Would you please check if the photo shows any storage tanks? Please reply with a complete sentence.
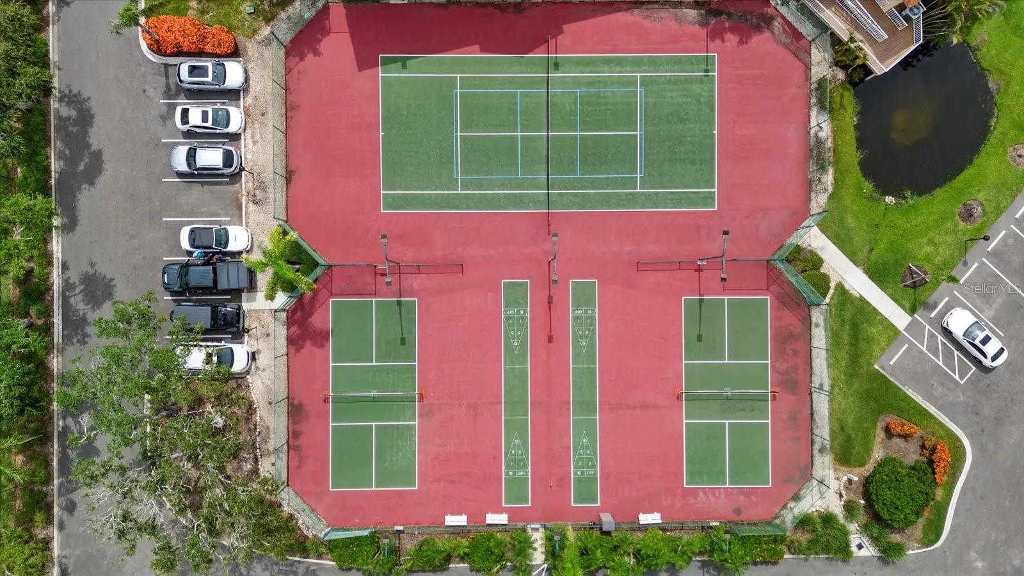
No, there is no storage tank in the image.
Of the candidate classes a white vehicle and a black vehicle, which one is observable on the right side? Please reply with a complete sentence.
It is a white vehicle that can be seen on the right side.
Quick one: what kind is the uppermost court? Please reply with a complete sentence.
Specifically, the uppermost court is a tennis court.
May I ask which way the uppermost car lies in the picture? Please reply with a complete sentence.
The uppermost car has been laid out from left to right relative to the frame.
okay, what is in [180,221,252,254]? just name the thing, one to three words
car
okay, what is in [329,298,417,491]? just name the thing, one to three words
sports court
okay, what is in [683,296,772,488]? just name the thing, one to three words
sports court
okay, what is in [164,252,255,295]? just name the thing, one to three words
truck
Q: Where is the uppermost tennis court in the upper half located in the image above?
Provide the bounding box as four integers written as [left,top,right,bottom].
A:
[379,53,717,212]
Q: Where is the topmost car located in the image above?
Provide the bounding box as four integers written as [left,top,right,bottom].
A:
[176,57,248,91]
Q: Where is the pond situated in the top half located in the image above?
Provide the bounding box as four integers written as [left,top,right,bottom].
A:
[854,28,996,197]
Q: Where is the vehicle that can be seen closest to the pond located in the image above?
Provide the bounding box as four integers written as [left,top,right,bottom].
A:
[941,309,1008,368]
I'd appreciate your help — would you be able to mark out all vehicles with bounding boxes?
[164,252,255,295]
[180,221,252,254]
[169,302,247,334]
[175,103,246,135]
[178,343,252,376]
[176,57,248,91]
[941,309,1008,368]
[171,142,243,175]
